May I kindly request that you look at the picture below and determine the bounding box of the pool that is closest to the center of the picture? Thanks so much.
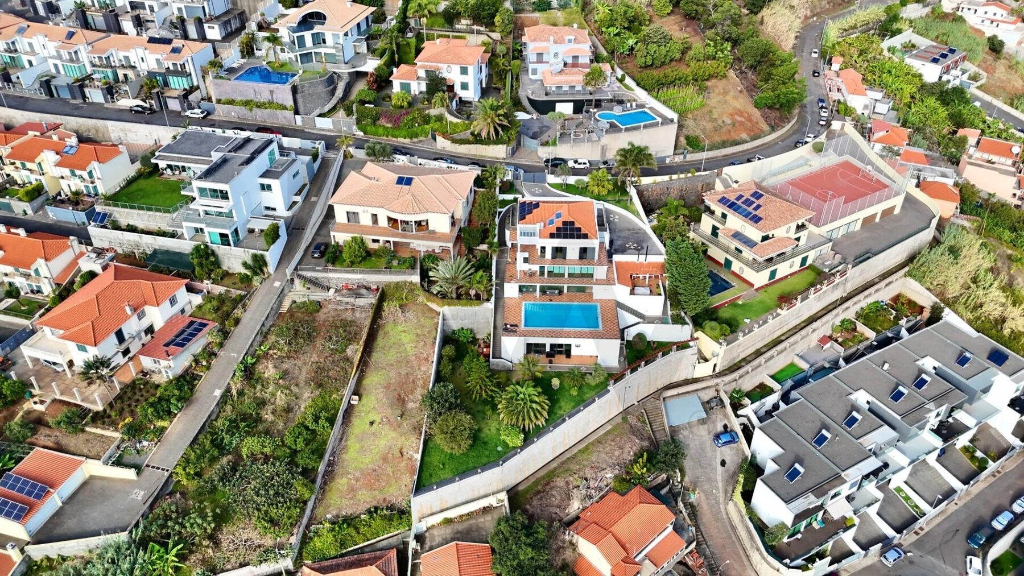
[525,304,599,328]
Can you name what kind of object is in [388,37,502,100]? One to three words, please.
house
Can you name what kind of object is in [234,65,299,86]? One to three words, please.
swimming pool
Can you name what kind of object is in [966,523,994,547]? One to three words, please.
car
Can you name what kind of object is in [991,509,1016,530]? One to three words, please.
car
